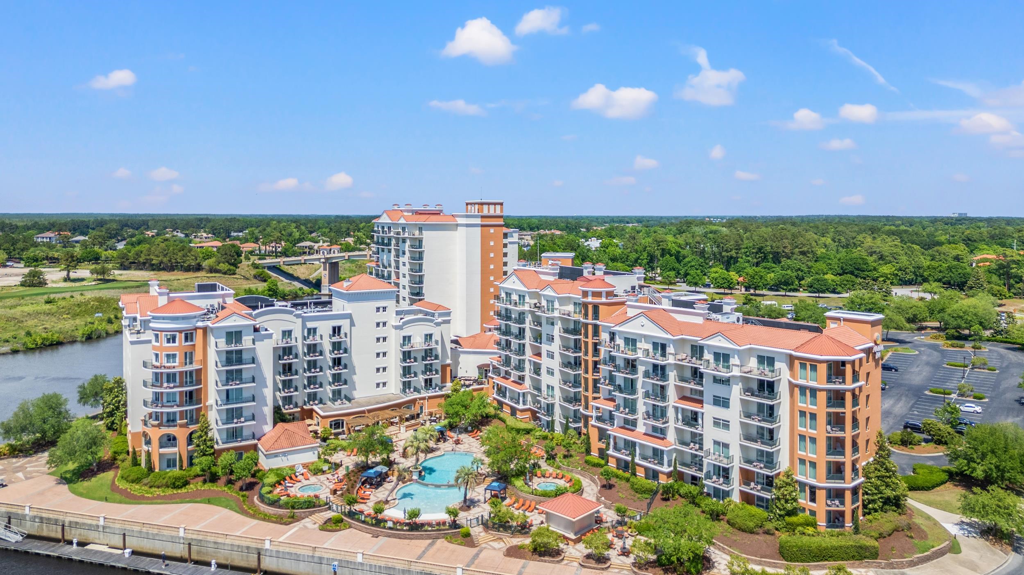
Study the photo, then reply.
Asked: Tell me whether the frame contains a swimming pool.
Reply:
Yes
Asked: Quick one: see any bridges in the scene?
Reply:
Yes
